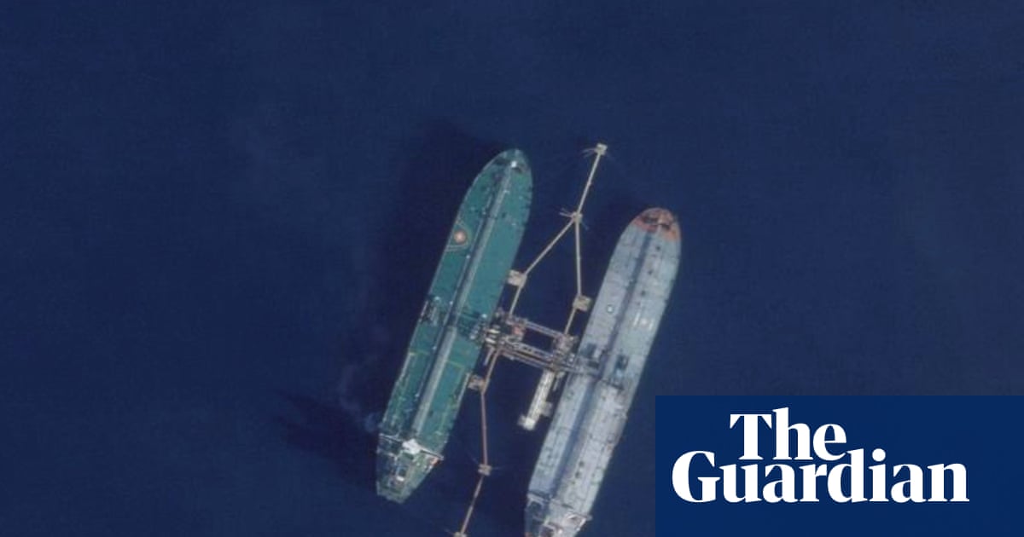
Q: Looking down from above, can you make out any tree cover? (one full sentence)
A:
No, there's no tree cover in this view.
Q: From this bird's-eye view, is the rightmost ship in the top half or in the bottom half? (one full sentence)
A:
It is in the bottom half that the rightmost ship appears.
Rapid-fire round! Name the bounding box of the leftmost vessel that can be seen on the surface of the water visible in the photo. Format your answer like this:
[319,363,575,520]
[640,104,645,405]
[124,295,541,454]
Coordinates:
[375,147,532,504]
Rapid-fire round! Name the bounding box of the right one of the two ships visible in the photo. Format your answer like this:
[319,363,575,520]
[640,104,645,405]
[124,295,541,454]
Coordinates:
[523,208,682,537]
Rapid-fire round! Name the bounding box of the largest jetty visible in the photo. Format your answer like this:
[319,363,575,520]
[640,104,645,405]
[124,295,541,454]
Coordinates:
[519,368,554,426]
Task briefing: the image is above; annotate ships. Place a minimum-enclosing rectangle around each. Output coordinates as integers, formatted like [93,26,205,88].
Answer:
[523,208,682,537]
[375,147,532,504]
